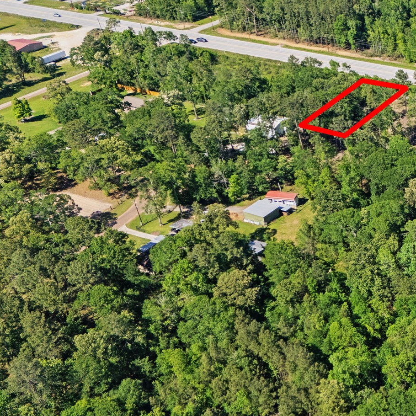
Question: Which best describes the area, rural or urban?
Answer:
rural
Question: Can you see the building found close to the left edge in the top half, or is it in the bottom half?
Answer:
top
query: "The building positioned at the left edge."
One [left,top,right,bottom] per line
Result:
[10,37,45,58]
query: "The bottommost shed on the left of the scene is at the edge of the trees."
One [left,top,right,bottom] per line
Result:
[137,234,167,260]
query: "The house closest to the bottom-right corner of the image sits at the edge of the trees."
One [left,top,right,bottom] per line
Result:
[248,241,272,262]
